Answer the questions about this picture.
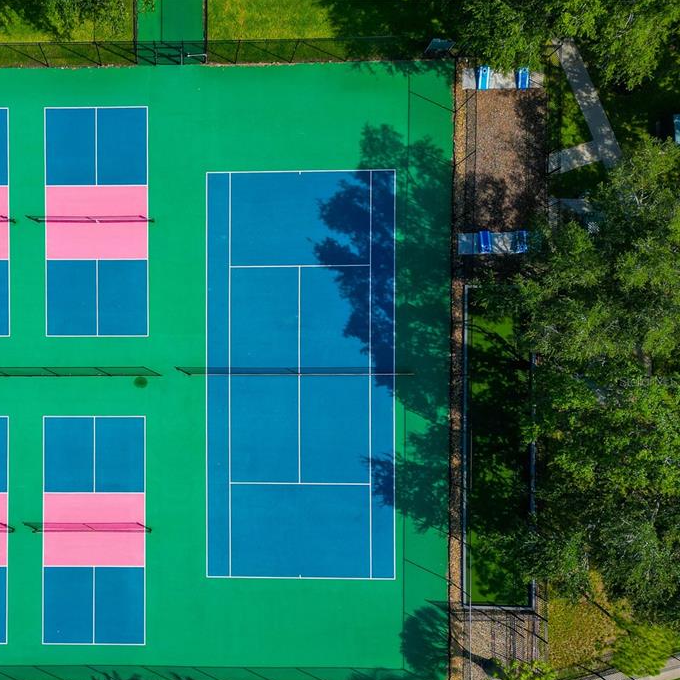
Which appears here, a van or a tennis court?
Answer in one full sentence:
The one in the frame is a tennis court.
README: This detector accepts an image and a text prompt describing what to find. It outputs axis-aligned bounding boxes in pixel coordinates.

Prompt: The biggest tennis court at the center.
[206,169,396,579]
